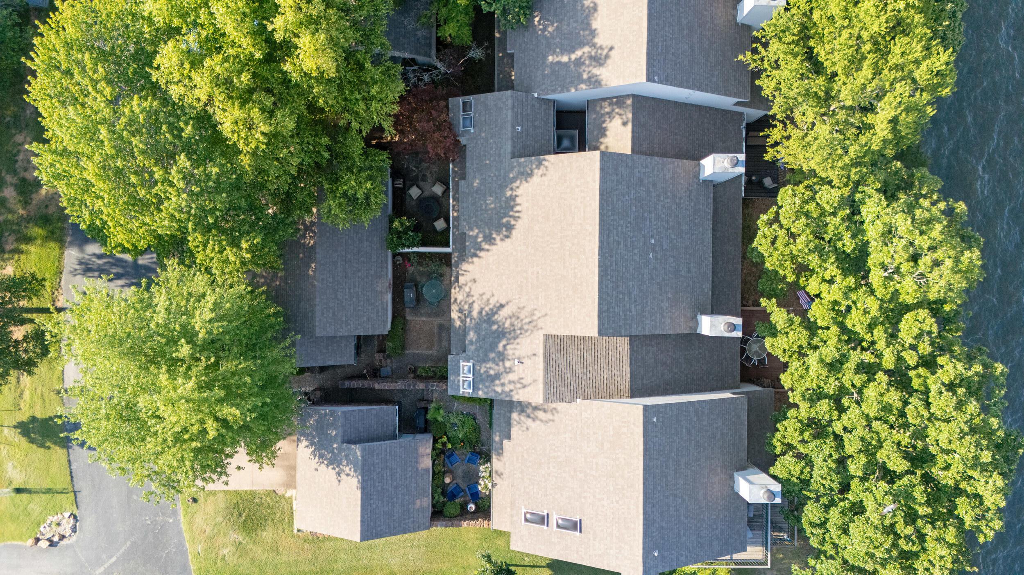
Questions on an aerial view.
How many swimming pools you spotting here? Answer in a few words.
0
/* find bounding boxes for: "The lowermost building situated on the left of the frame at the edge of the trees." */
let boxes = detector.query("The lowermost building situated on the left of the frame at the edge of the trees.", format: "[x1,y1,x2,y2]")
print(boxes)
[297,396,432,542]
